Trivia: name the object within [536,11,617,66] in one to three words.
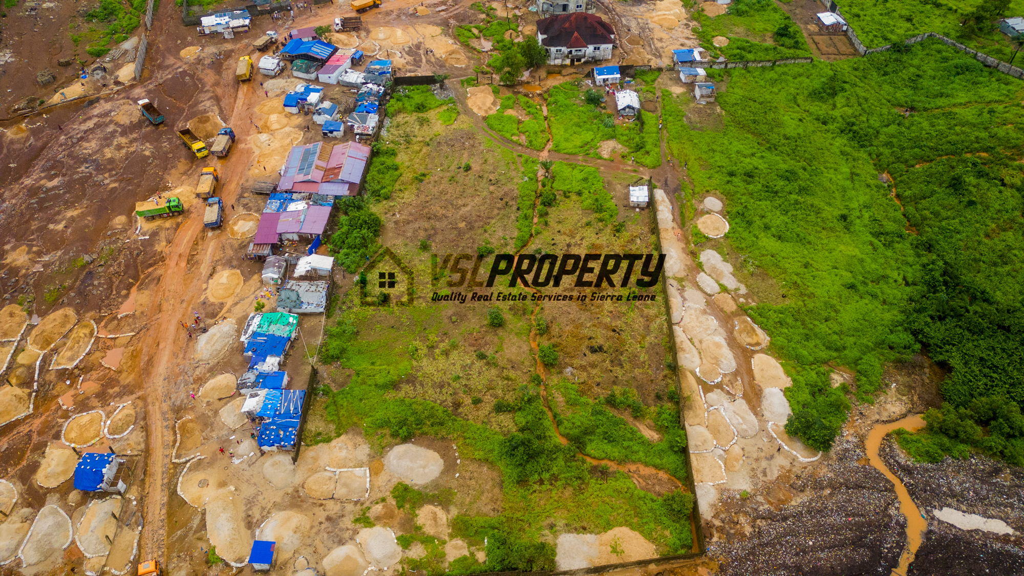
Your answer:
house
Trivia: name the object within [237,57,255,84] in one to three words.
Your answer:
vehicle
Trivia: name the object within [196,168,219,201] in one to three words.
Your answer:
truck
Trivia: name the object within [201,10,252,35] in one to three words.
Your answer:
shed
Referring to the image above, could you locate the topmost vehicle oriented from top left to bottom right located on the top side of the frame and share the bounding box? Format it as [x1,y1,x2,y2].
[136,99,167,129]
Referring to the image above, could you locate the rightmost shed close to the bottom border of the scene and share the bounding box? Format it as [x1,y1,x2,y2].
[249,541,278,571]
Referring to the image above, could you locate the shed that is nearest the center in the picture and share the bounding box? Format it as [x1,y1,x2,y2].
[629,186,648,209]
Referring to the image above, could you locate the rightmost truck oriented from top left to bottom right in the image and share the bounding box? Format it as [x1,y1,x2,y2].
[177,131,210,163]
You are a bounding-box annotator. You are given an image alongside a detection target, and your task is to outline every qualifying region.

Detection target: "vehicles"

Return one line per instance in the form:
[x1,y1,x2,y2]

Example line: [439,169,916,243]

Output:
[211,131,235,160]
[136,99,167,129]
[237,57,255,84]
[252,31,280,52]
[177,131,210,163]
[135,198,186,220]
[204,198,226,232]
[137,558,169,576]
[352,0,385,15]
[335,17,362,31]
[196,168,219,201]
